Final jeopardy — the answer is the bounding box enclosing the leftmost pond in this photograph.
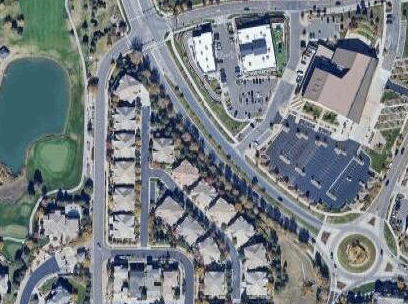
[0,58,68,178]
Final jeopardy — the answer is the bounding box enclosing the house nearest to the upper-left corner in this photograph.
[111,73,143,104]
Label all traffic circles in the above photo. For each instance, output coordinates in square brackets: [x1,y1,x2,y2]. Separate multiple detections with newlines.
[318,211,397,293]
